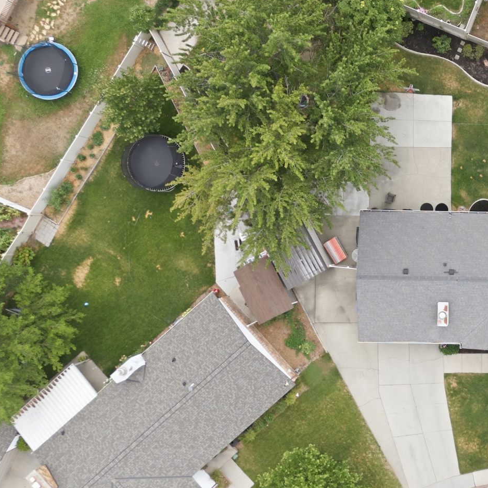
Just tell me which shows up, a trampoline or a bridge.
trampoline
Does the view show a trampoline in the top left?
Yes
